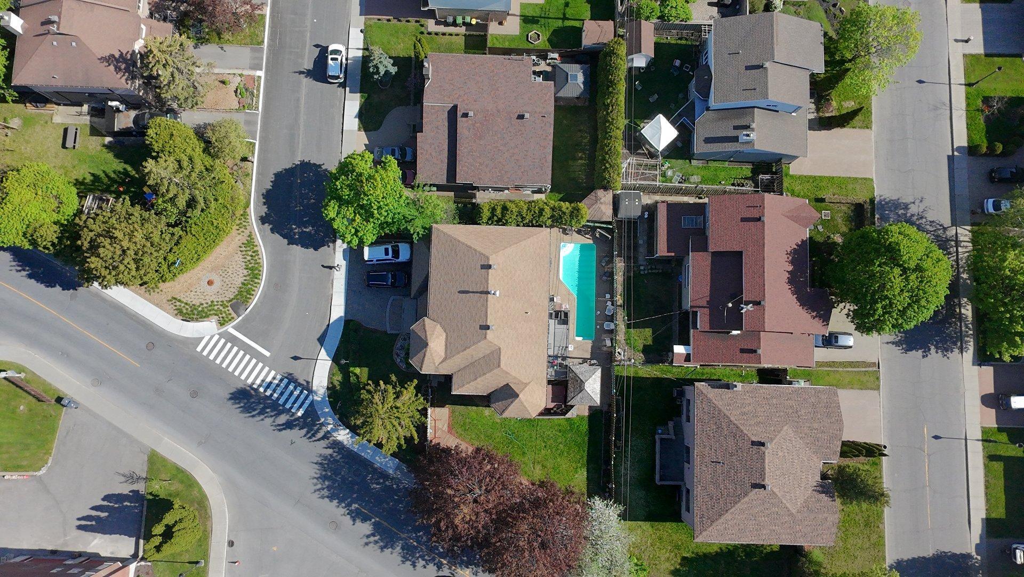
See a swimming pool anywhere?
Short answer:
Yes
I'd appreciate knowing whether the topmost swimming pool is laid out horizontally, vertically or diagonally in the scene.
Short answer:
vertically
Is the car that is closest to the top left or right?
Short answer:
left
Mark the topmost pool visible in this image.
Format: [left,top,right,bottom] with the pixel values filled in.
[558,241,597,342]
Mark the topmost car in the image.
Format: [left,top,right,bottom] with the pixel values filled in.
[326,44,346,84]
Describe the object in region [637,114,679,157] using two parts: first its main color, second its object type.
white tent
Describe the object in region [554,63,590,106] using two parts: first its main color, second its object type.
gray gazebo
